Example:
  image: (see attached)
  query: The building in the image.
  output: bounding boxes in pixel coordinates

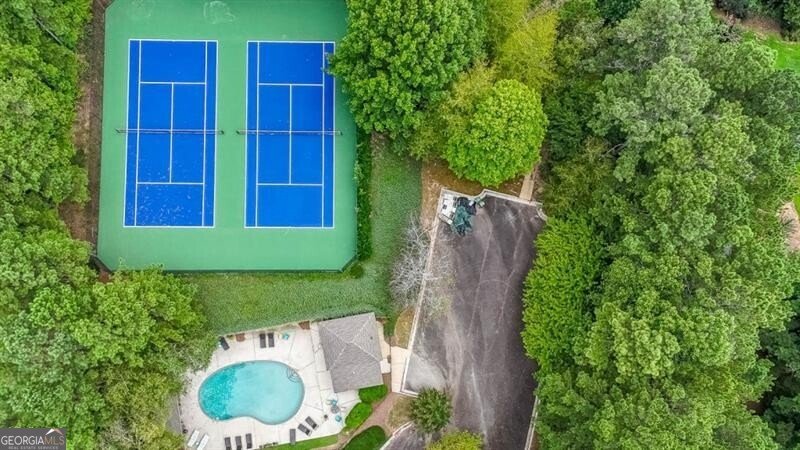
[318,312,384,392]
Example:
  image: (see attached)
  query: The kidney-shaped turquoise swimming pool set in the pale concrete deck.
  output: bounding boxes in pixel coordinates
[196,359,306,427]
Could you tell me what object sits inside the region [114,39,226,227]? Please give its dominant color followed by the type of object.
blue tennis court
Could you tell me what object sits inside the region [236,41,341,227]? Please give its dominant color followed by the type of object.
blue tennis court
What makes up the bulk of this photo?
trees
